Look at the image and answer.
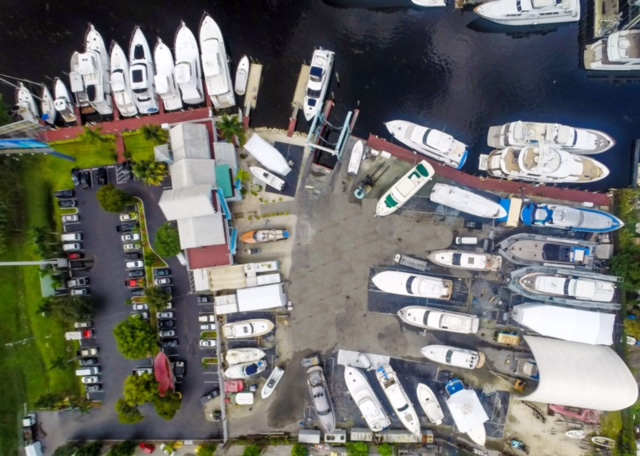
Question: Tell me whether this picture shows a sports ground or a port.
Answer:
port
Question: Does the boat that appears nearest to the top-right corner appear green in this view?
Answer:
No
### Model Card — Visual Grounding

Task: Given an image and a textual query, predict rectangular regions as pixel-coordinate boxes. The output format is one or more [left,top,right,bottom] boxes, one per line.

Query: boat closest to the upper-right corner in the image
[576,35,640,71]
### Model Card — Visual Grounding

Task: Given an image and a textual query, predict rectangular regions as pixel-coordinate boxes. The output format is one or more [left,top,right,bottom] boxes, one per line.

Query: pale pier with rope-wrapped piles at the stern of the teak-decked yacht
[579,0,618,44]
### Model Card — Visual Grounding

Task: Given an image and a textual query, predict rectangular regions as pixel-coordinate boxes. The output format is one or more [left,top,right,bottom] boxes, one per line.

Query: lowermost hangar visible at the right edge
[518,335,638,412]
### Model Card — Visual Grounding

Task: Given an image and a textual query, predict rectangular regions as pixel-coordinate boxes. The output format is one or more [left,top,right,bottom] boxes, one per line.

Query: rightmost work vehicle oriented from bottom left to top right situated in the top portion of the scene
[351,160,389,200]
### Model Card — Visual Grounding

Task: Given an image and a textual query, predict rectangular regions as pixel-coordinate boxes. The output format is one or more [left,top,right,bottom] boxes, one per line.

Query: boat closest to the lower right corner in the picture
[592,435,616,449]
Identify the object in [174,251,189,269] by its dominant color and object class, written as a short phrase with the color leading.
white vehicle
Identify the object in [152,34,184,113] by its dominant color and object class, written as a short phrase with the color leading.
white boat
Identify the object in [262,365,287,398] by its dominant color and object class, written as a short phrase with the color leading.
white boat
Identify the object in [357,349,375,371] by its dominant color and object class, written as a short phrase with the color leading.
white vehicle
